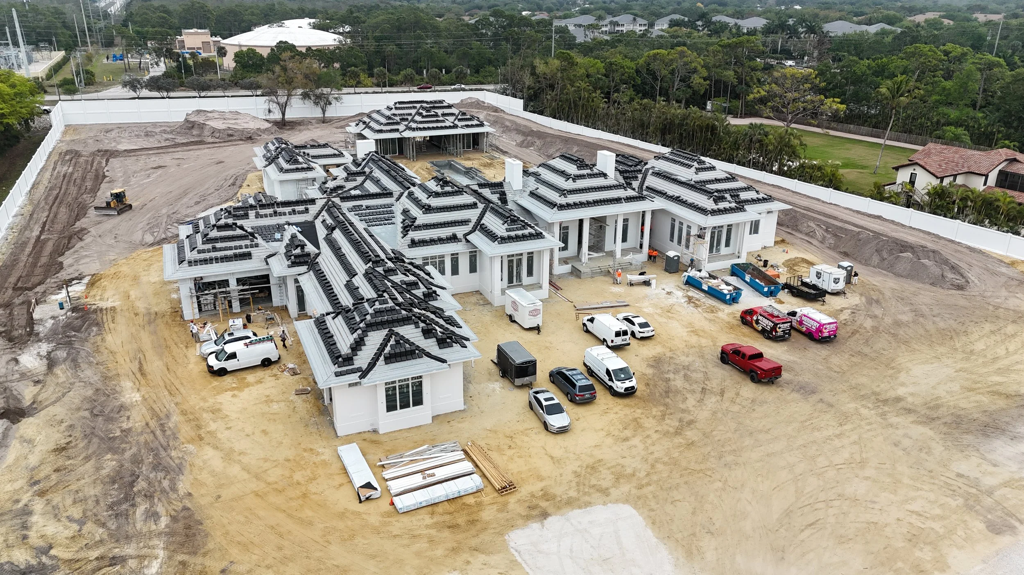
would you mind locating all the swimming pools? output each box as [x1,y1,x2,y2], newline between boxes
[425,159,492,195]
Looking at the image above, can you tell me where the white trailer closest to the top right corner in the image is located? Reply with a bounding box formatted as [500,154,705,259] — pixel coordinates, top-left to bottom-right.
[806,261,852,295]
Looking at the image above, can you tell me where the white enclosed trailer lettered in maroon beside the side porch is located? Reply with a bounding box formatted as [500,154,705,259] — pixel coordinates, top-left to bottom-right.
[506,291,545,333]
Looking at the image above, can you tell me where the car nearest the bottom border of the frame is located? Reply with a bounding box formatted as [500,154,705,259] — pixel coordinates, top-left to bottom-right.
[528,391,572,434]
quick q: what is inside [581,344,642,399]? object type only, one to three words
van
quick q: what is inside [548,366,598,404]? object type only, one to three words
car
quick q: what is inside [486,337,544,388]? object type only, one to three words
trailer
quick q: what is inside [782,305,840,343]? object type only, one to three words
van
